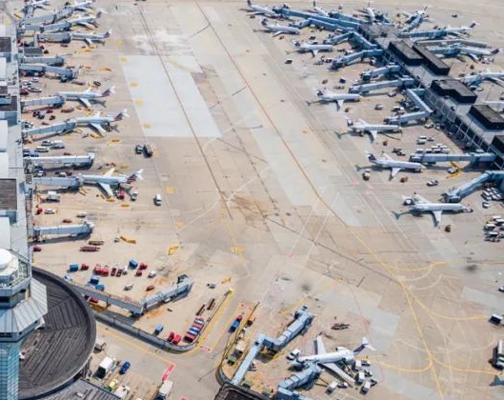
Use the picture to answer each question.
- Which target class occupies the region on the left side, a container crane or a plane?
plane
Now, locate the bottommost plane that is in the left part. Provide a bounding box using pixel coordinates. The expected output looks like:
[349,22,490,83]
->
[76,169,131,192]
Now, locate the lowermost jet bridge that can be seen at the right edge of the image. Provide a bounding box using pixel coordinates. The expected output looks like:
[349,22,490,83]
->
[443,171,502,213]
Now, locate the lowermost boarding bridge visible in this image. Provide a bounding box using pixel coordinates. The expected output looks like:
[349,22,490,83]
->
[274,362,320,400]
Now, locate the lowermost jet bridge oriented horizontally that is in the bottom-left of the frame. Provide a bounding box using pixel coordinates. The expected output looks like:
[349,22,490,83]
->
[63,273,193,324]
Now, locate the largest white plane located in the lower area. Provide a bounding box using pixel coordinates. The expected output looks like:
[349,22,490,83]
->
[290,337,365,378]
